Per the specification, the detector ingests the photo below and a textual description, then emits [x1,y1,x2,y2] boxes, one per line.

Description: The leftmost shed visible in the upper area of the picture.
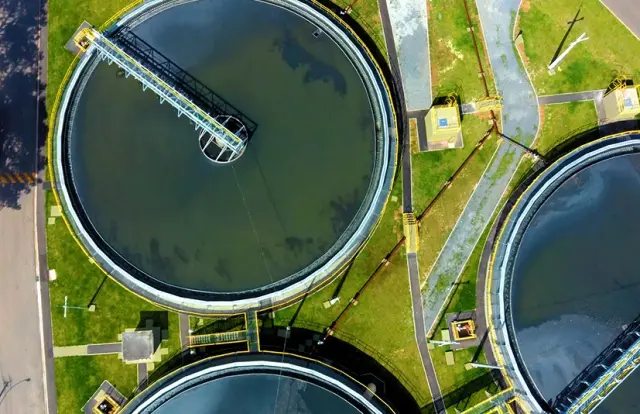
[427,96,461,141]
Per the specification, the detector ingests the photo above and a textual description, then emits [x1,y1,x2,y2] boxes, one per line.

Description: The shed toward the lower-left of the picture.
[118,327,168,371]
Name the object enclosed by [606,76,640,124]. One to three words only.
shed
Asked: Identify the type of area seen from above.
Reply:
industrial area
